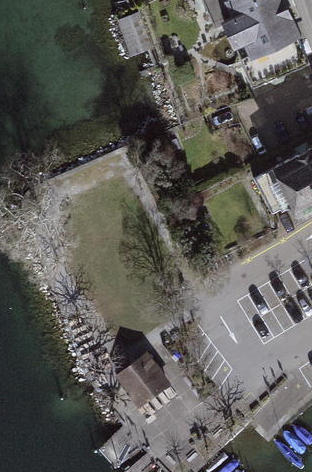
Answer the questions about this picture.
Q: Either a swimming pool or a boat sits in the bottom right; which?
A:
boat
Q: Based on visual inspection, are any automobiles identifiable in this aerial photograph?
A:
Yes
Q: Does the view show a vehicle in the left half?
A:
No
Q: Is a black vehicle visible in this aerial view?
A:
Yes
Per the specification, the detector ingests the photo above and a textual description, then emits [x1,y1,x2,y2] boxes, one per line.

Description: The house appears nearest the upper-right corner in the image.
[224,0,302,63]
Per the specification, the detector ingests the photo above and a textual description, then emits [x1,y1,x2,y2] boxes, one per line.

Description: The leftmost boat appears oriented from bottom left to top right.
[208,454,229,472]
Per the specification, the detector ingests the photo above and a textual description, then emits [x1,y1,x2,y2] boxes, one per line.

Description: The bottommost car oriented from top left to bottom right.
[256,322,273,344]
